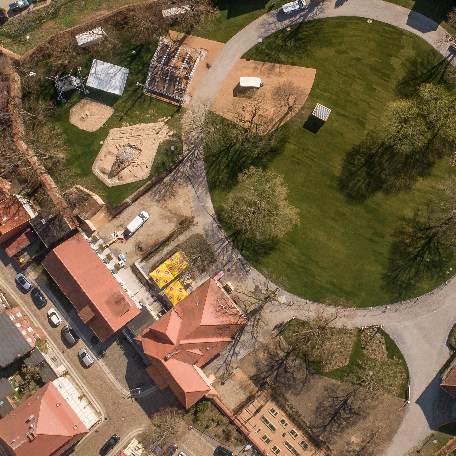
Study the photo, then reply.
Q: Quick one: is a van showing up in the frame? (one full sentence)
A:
Yes, there is a van in the image.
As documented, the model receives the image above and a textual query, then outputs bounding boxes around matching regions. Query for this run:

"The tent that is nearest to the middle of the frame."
[165,251,188,277]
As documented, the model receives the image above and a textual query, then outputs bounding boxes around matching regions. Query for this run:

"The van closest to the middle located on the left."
[121,208,153,238]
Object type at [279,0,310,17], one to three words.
vehicle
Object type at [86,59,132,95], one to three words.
tent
